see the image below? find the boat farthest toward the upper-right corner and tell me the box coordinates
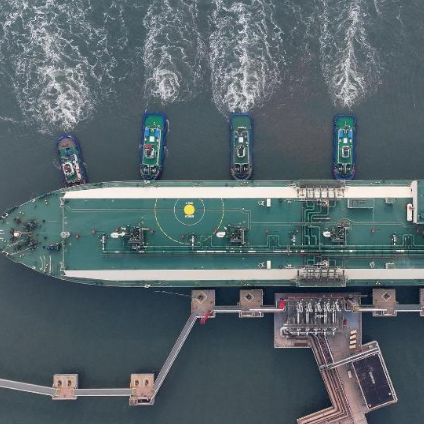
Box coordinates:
[332,113,357,180]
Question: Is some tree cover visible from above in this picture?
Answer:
No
